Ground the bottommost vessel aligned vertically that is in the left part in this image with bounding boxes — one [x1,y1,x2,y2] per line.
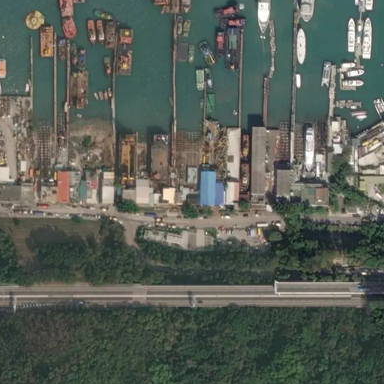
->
[120,134,136,178]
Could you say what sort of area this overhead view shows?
port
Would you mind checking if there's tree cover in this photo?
Yes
